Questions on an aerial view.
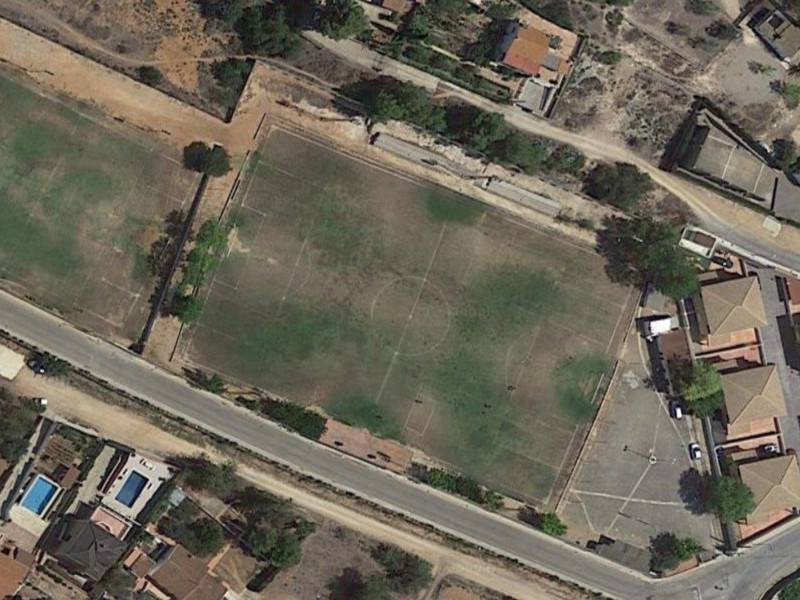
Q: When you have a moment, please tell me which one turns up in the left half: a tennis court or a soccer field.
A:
soccer field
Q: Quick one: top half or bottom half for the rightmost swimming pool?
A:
bottom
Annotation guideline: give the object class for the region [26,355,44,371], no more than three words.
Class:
car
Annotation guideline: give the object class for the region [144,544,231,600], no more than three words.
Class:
house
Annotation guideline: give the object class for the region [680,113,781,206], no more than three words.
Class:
tennis court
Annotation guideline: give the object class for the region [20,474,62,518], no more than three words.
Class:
swimming pool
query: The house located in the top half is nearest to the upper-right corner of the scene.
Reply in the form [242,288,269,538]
[746,9,800,62]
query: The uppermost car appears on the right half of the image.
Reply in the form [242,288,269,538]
[715,255,730,269]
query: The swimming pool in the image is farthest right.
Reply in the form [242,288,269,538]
[99,452,177,521]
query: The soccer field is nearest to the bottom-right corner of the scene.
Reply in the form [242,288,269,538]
[172,118,645,509]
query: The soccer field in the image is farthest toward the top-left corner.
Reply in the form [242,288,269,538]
[0,76,200,348]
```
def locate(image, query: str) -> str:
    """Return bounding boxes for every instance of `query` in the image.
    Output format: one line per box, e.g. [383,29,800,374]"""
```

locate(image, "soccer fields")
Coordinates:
[172,118,645,509]
[0,76,200,348]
